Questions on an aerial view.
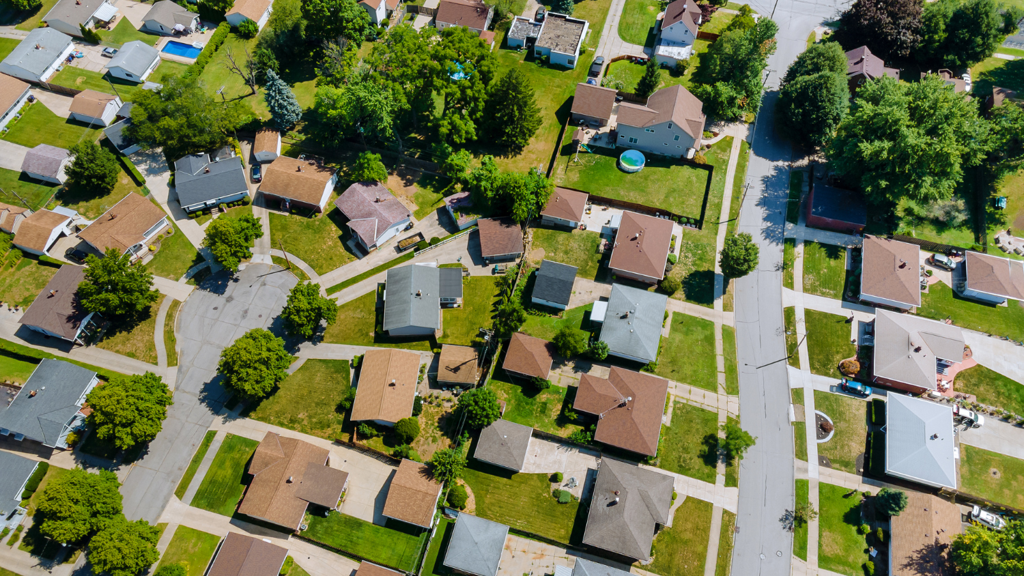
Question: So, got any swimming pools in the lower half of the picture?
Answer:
No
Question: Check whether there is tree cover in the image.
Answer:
Yes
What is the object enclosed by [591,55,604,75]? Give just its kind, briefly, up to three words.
vehicle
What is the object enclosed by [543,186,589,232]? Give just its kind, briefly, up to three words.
building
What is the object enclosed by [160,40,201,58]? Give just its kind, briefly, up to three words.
swimming pool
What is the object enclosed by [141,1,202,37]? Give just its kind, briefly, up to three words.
house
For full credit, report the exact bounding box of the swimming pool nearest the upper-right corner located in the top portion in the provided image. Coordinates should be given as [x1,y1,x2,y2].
[618,149,644,173]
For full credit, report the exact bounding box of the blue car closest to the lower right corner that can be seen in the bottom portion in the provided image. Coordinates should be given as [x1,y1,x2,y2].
[843,376,873,395]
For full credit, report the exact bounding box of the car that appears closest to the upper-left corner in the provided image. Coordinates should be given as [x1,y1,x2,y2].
[97,44,119,56]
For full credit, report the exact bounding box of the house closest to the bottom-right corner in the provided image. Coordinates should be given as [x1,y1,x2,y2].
[886,488,961,576]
